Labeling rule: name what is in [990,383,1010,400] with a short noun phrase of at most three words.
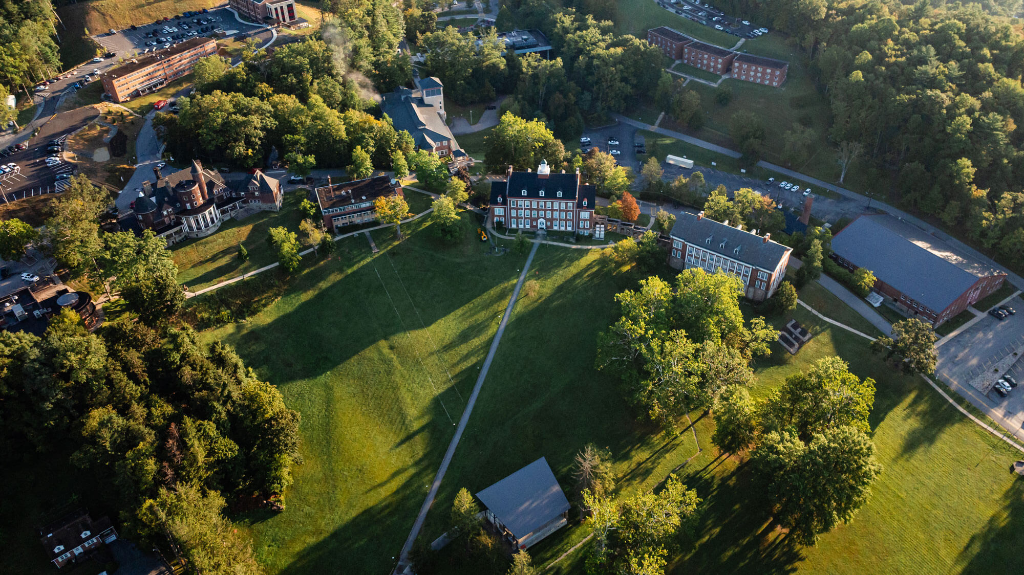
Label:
car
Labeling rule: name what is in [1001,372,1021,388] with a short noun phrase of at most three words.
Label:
car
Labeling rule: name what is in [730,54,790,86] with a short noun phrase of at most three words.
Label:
building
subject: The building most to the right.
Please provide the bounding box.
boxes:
[819,215,1009,324]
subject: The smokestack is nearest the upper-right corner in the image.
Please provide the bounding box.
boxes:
[802,196,816,223]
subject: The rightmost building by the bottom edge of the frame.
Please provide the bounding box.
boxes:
[476,457,570,551]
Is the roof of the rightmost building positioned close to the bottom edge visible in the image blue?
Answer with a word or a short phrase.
Yes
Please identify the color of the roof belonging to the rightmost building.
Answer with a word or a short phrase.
blue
